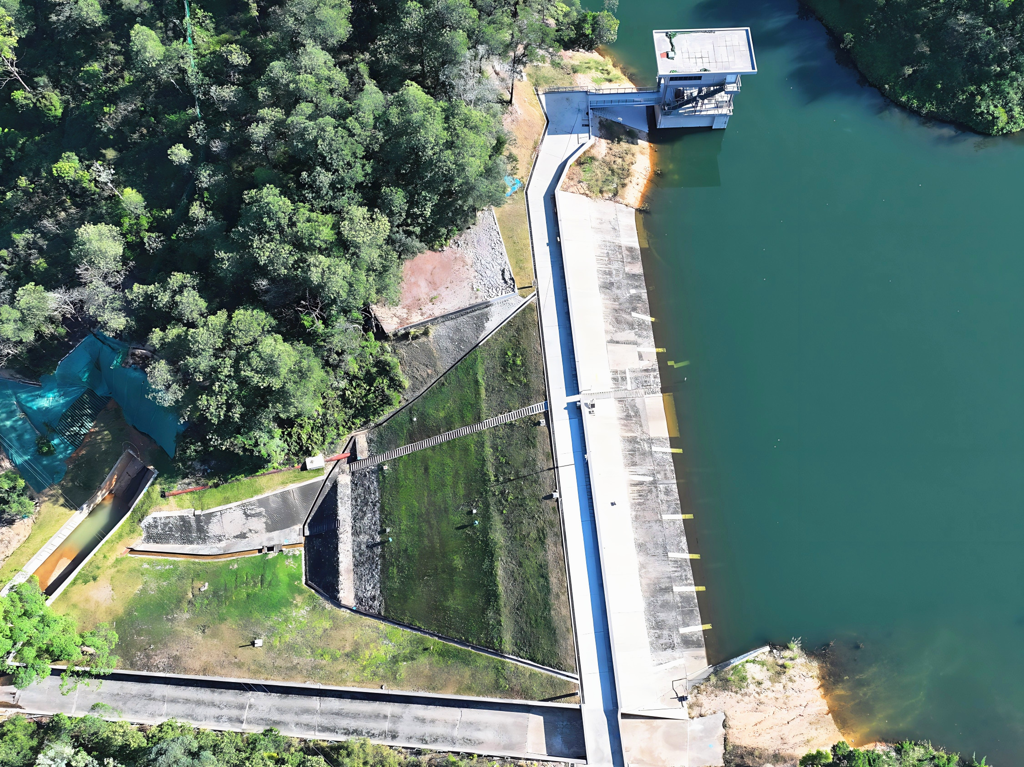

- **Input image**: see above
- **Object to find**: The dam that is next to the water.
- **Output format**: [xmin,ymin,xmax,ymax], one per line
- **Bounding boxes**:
[304,88,728,767]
